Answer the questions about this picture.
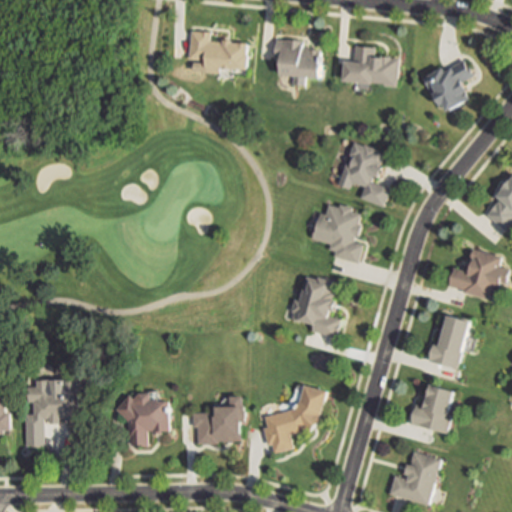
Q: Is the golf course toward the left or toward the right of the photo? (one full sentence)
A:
You can find the golf course on the left side of the picture.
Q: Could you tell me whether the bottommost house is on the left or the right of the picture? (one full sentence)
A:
It is on the right.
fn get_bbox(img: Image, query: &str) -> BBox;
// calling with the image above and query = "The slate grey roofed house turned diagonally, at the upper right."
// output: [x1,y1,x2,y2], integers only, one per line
[423,59,476,112]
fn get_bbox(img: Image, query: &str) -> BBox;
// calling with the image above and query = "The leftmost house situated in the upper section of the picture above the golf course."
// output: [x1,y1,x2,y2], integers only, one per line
[190,30,250,80]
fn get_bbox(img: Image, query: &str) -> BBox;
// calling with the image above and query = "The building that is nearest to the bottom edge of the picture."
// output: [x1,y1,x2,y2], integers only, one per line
[389,453,448,505]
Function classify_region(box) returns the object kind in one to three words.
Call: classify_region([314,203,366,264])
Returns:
house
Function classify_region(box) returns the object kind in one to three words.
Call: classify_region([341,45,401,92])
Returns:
house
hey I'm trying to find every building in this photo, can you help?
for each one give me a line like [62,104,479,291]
[0,398,12,434]
[423,59,476,112]
[336,142,390,209]
[449,250,510,298]
[193,396,245,445]
[120,392,174,447]
[486,176,512,232]
[26,380,67,448]
[314,203,366,264]
[427,314,479,368]
[264,386,328,453]
[341,45,401,92]
[409,386,454,432]
[190,30,250,80]
[274,39,327,88]
[290,274,342,334]
[389,453,448,505]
